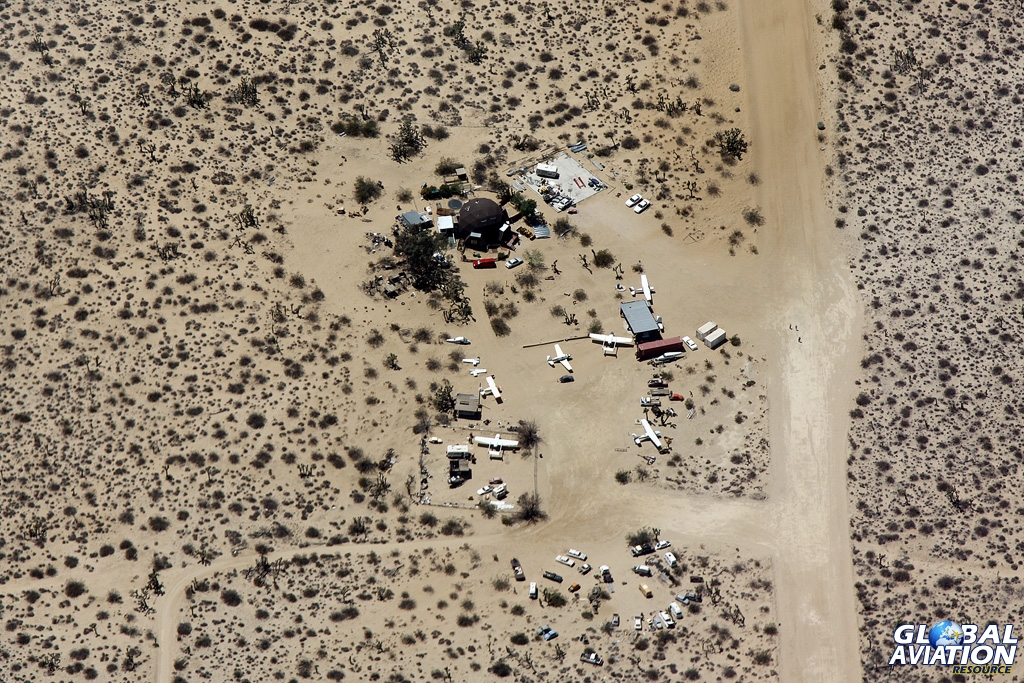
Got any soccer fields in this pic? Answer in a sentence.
No, there isn't any soccer field down there.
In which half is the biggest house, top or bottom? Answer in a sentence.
The biggest house sits in the top half of the picture.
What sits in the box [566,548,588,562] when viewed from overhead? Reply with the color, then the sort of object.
white car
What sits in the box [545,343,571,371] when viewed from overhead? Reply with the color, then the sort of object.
white airplane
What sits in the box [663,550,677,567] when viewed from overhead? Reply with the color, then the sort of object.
white vehicle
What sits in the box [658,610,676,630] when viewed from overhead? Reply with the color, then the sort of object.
white camper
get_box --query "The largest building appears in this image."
[457,197,510,247]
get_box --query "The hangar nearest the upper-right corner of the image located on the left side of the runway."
[621,300,659,340]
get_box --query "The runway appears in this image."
[737,0,866,683]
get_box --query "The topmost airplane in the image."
[626,274,654,302]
